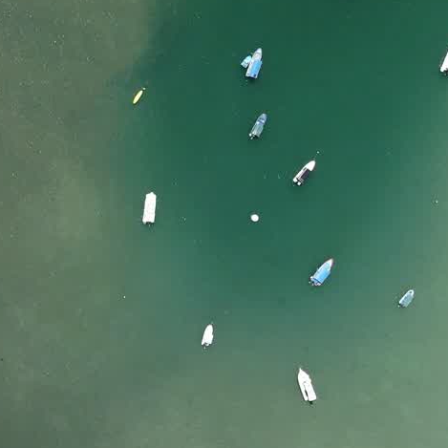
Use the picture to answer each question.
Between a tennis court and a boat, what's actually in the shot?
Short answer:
boat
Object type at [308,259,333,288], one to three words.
boat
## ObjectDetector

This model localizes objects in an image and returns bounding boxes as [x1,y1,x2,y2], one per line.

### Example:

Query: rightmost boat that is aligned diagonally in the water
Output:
[398,290,413,309]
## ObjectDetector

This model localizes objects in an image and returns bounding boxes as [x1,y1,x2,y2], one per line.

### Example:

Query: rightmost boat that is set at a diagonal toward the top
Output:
[293,161,314,186]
